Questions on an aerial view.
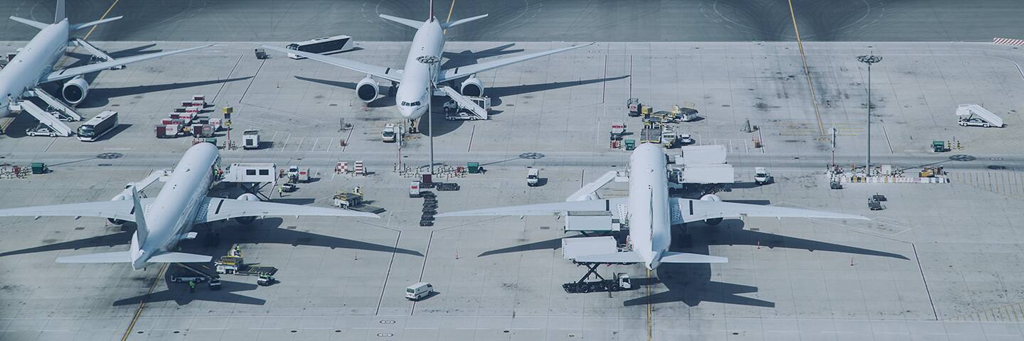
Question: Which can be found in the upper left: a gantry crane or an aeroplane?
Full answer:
It is an aeroplane that can be seen in the upper left.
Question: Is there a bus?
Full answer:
Yes, there's a bus here.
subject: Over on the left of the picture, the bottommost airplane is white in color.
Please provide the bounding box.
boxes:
[0,146,375,273]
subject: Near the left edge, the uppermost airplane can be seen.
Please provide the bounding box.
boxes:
[0,0,214,134]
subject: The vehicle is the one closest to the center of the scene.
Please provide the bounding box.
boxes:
[527,167,540,186]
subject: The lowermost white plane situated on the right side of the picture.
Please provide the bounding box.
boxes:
[433,144,867,272]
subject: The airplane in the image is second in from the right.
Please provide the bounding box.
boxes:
[261,0,597,133]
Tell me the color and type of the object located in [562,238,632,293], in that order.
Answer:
white truck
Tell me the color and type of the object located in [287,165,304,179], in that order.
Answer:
white vehicle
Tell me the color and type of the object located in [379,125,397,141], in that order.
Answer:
white vehicle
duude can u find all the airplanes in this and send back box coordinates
[0,146,375,273]
[261,0,597,133]
[0,0,214,134]
[433,144,867,272]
